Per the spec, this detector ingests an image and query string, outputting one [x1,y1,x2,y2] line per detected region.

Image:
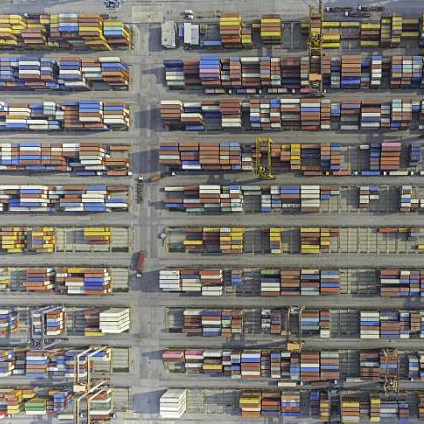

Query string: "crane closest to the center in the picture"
[255,136,279,182]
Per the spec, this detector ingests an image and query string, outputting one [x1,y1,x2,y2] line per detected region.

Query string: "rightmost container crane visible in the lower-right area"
[376,346,401,397]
